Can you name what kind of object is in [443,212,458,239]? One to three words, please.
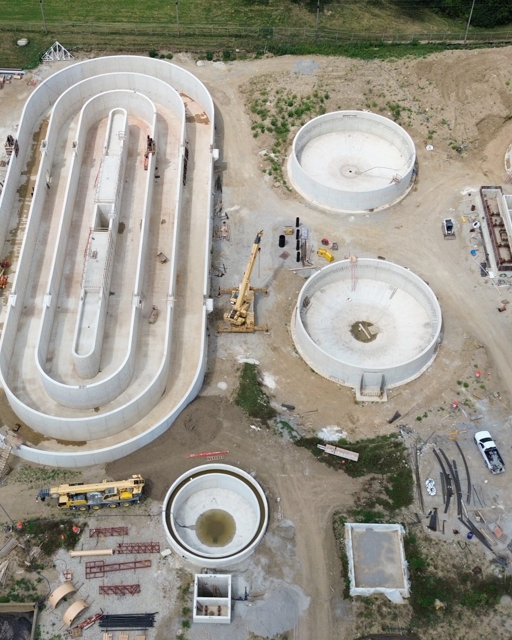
work vehicle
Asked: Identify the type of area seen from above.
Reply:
industrial area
